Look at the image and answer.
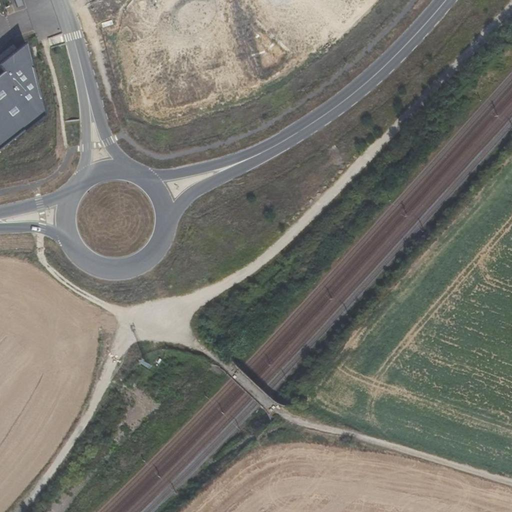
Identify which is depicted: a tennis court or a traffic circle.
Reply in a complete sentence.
This aerial view contains a traffic circle.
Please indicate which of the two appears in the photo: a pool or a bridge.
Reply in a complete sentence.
It is a bridge that can be seen here.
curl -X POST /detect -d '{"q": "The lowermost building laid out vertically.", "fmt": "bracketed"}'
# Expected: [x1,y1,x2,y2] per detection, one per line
[0,43,48,149]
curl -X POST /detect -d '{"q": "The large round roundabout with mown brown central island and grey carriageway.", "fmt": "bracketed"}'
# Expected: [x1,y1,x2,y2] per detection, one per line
[56,158,176,280]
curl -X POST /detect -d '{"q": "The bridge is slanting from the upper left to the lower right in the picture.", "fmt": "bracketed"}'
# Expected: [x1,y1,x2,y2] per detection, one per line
[216,354,287,419]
